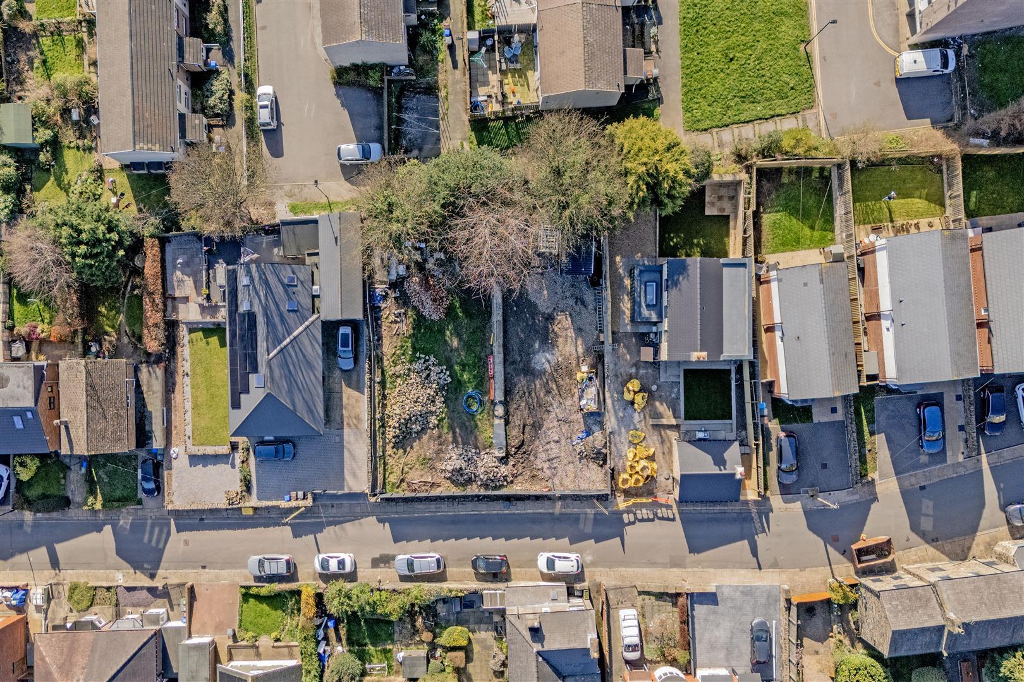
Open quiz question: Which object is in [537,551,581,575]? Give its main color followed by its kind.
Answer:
white car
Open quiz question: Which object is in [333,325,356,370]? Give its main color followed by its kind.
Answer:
blue car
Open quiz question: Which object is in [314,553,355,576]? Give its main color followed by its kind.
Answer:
white car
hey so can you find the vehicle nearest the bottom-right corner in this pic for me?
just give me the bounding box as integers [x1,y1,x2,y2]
[1001,504,1024,528]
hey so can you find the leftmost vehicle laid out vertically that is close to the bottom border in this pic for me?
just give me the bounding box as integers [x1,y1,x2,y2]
[619,606,643,660]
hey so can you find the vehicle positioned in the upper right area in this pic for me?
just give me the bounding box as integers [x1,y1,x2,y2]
[893,47,950,78]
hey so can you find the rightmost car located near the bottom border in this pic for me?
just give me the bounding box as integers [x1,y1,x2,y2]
[749,616,773,664]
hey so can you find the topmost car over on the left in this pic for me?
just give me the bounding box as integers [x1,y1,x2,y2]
[253,86,277,131]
